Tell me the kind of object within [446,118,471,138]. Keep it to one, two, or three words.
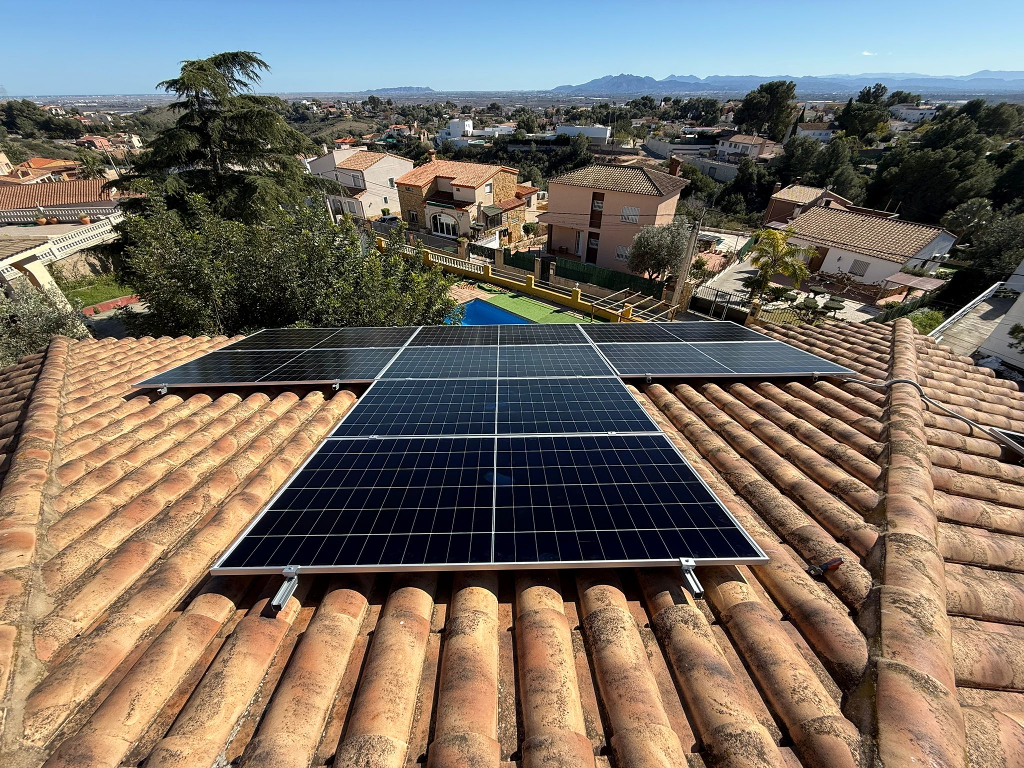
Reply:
house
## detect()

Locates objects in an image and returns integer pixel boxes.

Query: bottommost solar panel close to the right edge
[988,428,1024,457]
